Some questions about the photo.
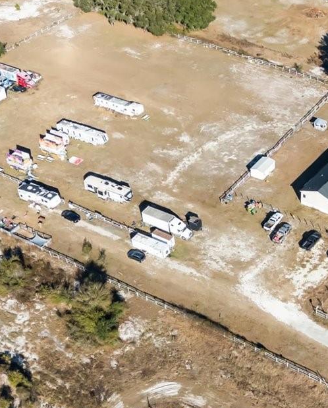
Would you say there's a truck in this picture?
Yes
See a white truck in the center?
Yes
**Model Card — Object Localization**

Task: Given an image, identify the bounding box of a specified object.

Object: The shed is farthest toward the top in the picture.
[249,155,277,180]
